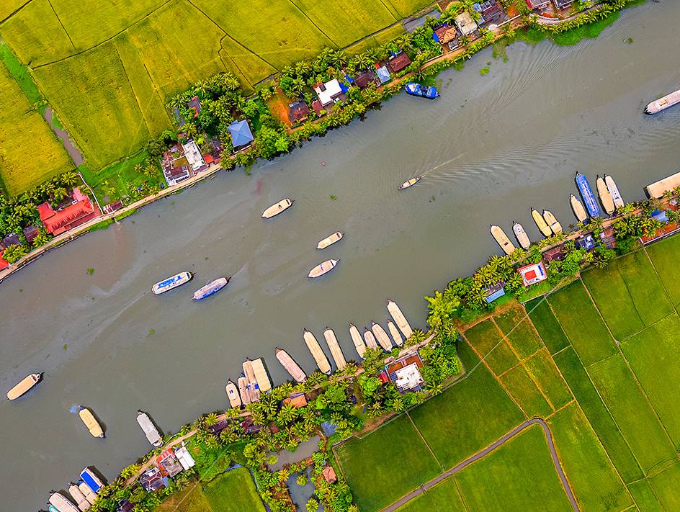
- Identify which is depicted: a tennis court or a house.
house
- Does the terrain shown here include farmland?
Yes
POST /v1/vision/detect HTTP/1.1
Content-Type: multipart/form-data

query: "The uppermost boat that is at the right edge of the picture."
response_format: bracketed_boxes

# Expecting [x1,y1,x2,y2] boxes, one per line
[642,91,680,113]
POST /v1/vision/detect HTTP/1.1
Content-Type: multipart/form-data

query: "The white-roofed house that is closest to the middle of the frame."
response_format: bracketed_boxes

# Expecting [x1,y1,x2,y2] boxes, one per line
[383,350,423,395]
